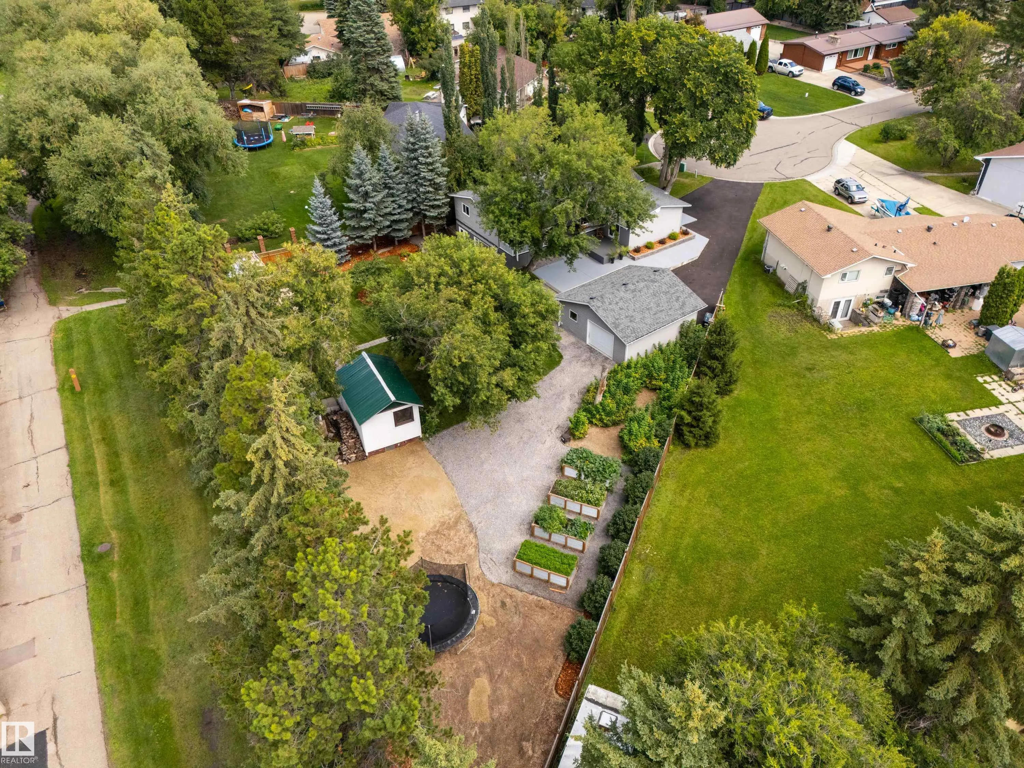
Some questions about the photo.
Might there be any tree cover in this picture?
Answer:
Yes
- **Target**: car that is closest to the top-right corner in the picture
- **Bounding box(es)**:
[831,74,869,95]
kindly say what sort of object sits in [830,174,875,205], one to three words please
car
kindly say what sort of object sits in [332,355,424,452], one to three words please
shed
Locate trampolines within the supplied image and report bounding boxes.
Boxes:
[391,559,480,665]
[228,115,276,152]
